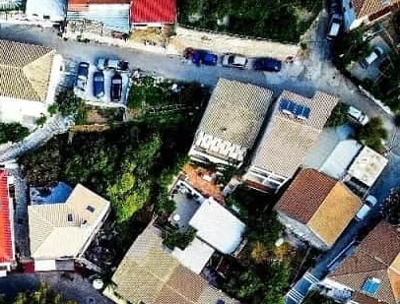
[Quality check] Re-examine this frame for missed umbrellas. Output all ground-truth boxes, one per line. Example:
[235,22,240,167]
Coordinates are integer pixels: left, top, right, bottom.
[171,213,182,224]
[91,276,105,292]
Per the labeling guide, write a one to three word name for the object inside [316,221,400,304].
house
